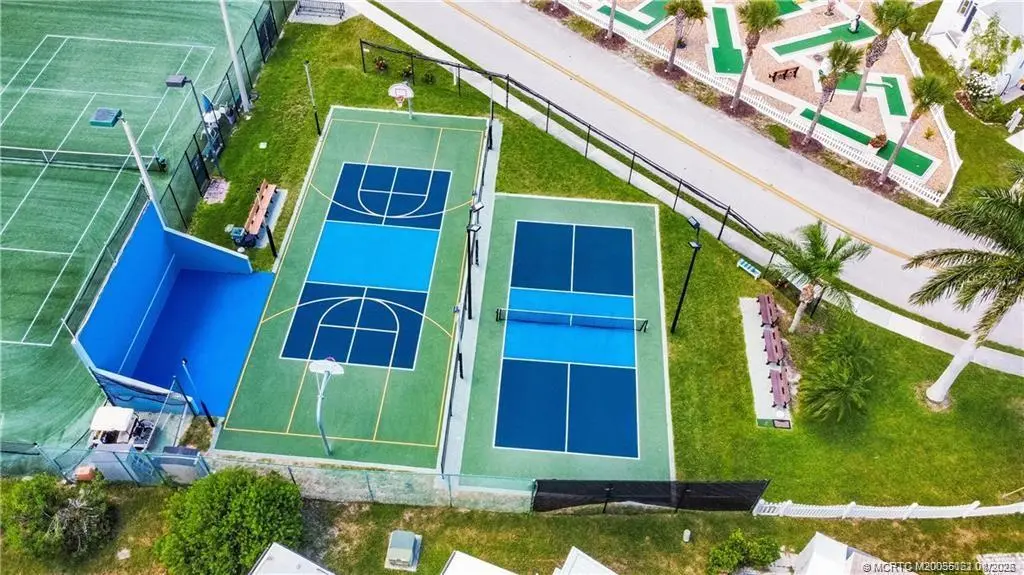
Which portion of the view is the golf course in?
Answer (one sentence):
Look in the top right portion of the view to spot the golf course.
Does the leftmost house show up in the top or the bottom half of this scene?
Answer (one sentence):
It is in the bottom half that the leftmost house appears.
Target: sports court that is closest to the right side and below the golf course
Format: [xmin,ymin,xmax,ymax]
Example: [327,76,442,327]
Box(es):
[459,192,676,482]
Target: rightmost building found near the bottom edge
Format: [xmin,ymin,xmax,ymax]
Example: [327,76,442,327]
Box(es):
[795,532,866,575]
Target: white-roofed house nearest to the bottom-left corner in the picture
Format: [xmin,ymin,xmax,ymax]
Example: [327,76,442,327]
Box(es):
[253,539,341,575]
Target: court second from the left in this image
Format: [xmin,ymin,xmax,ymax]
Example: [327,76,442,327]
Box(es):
[205,106,487,470]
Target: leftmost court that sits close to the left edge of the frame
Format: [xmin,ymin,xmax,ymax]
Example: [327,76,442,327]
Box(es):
[0,0,290,486]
